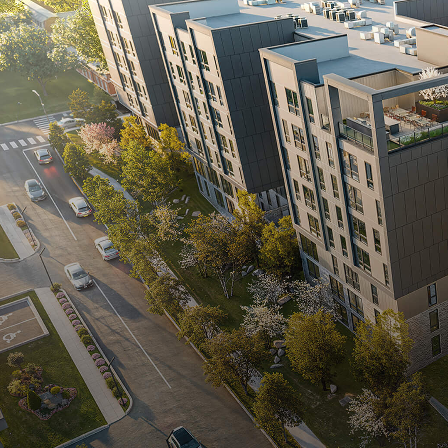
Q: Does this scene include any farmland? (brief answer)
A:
No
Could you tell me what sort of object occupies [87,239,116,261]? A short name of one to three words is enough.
car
